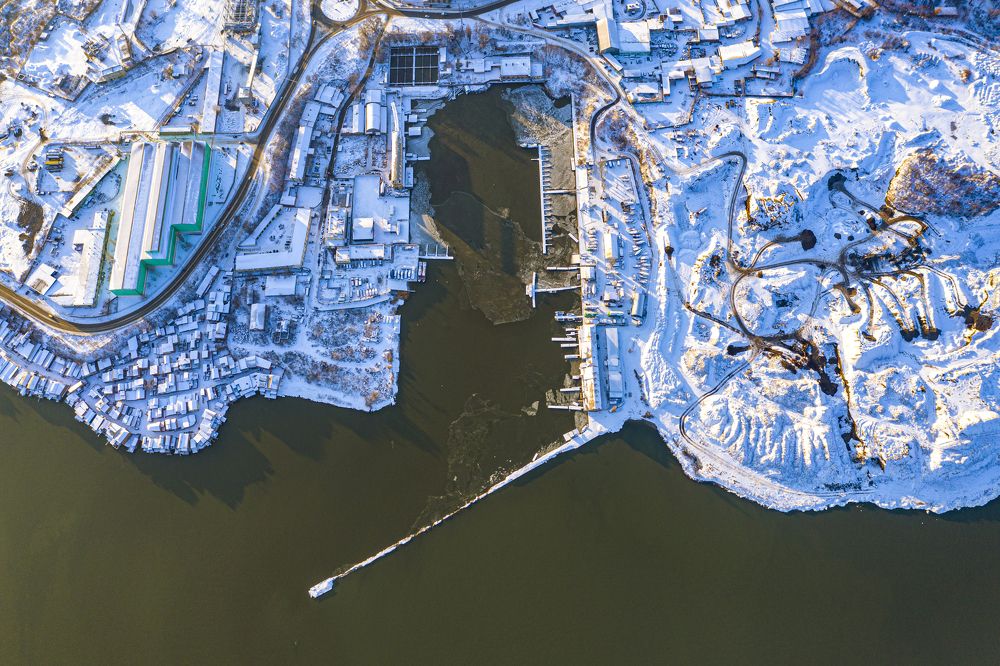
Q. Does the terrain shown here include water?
Yes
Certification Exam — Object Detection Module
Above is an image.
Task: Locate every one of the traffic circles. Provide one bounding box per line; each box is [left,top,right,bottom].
[311,0,368,27]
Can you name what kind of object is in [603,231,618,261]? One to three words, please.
shed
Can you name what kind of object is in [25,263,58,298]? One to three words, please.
house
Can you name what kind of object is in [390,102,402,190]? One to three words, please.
ship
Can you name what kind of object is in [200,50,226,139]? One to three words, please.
building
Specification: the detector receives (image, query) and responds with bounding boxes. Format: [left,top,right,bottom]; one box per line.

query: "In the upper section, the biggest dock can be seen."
[540,146,556,254]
